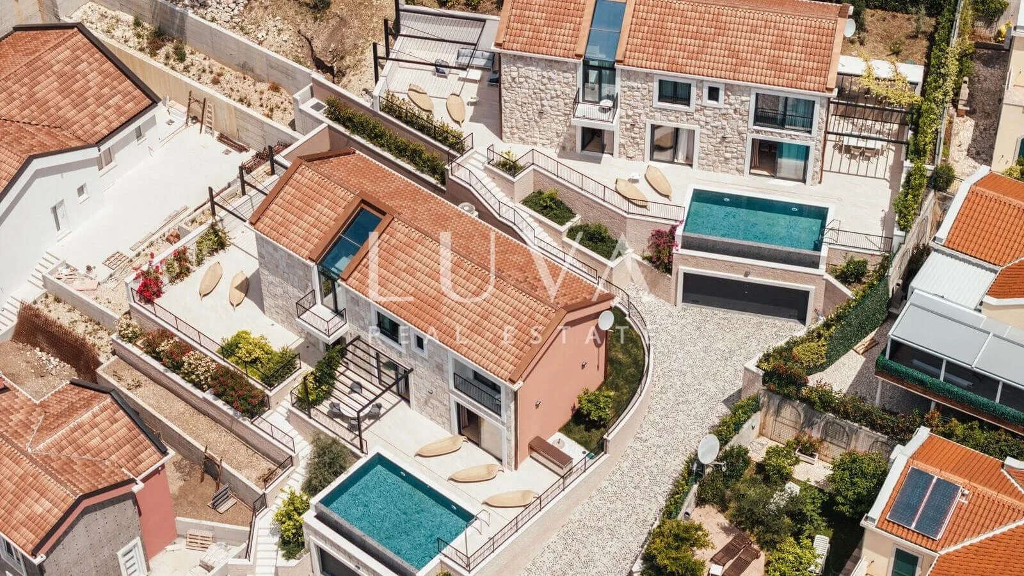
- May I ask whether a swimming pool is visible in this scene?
Yes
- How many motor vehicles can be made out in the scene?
zero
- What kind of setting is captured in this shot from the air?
residential area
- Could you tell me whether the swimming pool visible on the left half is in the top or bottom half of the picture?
bottom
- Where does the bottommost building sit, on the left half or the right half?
left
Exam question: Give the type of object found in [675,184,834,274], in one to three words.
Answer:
swimming pool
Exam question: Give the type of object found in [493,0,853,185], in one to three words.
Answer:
house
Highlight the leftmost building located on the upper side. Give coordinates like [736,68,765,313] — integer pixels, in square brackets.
[0,24,164,278]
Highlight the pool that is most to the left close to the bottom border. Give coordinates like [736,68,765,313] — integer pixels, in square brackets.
[302,446,484,576]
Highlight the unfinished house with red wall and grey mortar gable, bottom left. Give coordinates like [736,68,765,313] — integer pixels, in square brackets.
[0,368,175,576]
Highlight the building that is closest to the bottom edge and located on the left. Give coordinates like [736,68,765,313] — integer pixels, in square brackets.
[304,523,392,576]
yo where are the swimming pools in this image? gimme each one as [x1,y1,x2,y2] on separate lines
[675,184,834,274]
[302,446,484,576]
